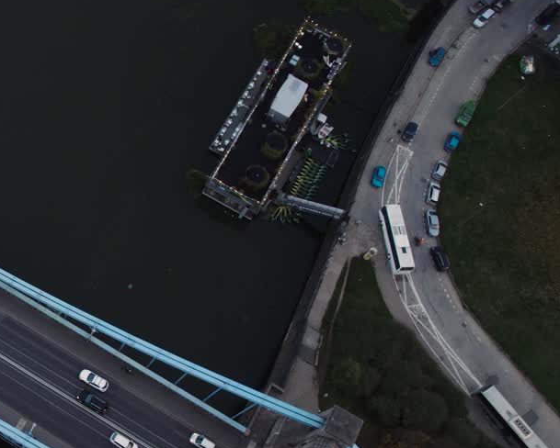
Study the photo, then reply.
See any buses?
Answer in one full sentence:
Yes, I can see a bus in this picture.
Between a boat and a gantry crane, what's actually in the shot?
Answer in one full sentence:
Looking from above, you can make out a boat.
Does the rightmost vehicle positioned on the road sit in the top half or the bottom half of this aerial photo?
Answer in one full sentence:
The top half of the photo is where the rightmost vehicle positioned on the road is.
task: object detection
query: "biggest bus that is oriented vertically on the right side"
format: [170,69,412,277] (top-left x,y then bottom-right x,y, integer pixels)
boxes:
[376,202,416,281]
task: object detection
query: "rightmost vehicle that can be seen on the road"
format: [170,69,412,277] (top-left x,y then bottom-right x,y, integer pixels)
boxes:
[536,1,560,23]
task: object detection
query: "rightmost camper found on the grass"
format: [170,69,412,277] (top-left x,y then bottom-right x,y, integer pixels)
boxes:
[517,53,539,76]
